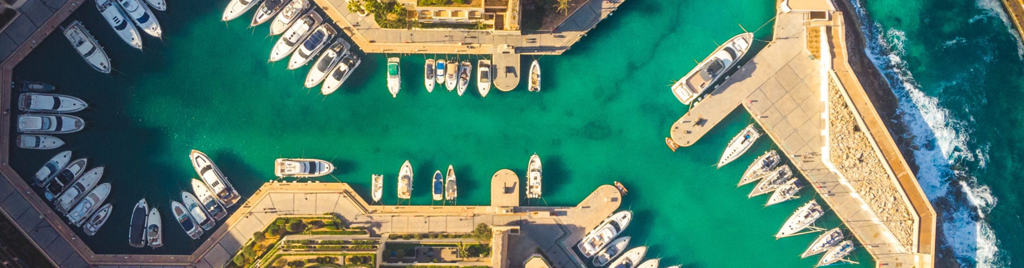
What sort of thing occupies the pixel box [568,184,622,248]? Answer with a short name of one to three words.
pier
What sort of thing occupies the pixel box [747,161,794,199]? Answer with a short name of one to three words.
boat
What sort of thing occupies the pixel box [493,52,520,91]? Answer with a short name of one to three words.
pier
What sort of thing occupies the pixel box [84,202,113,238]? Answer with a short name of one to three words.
boat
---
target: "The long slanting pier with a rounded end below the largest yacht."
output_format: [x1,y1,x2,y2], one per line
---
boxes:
[669,51,764,146]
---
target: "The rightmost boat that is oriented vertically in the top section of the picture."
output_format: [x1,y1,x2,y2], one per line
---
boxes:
[528,56,541,94]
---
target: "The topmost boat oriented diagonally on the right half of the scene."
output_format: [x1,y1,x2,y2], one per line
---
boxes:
[674,17,775,106]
